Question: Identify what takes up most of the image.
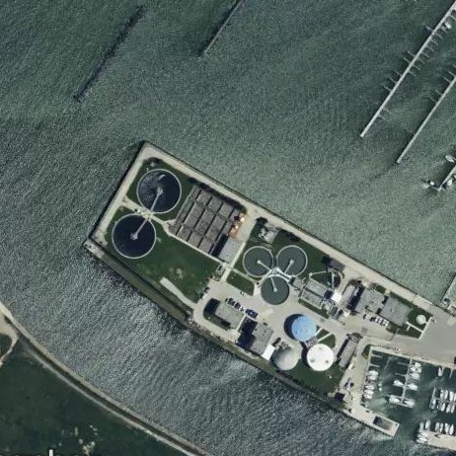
water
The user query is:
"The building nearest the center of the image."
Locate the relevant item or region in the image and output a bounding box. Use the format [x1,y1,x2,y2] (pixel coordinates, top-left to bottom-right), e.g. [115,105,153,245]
[220,236,243,260]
